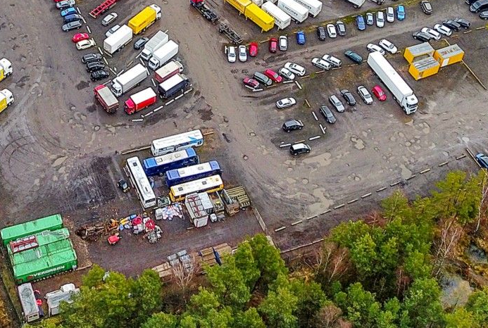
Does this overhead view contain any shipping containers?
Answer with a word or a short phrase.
Yes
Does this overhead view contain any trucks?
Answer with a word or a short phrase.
Yes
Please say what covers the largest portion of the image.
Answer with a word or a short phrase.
paved ground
